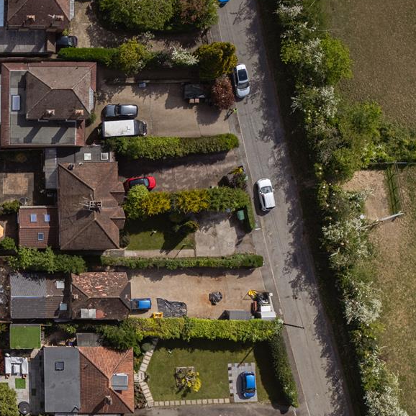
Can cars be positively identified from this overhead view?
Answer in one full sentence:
Yes, I can see a car in this picture.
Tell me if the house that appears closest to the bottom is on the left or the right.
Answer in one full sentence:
It is on the left.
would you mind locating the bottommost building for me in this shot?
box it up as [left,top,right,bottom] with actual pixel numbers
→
[38,343,134,416]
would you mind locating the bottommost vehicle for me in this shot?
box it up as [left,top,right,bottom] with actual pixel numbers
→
[238,370,256,400]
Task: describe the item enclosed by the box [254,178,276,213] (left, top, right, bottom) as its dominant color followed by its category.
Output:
white car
